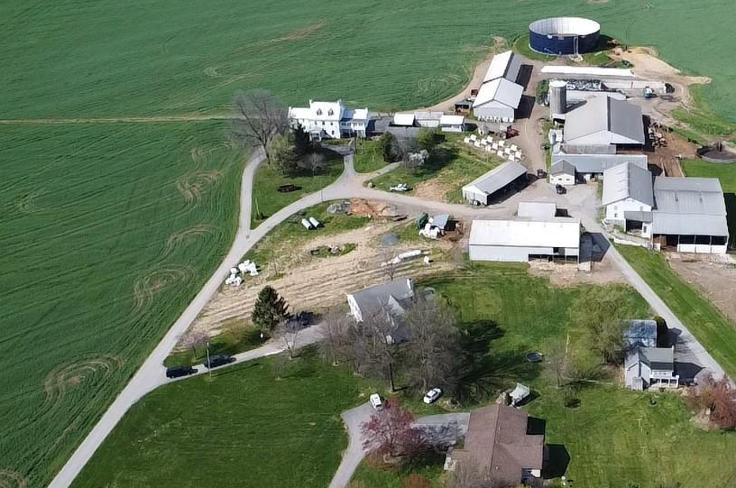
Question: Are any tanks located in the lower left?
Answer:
No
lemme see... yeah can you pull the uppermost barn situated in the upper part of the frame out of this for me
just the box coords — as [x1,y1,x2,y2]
[481,50,525,86]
